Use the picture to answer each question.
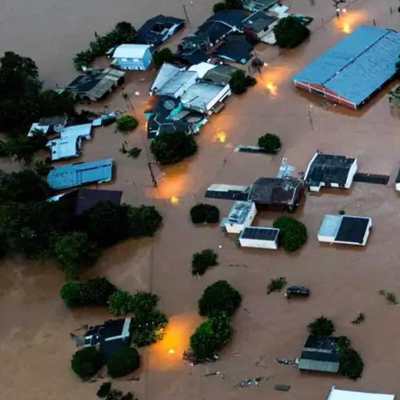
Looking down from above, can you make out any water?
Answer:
Yes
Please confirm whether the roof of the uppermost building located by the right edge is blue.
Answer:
Yes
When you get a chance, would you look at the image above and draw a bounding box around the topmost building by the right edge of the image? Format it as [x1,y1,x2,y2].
[292,26,400,113]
